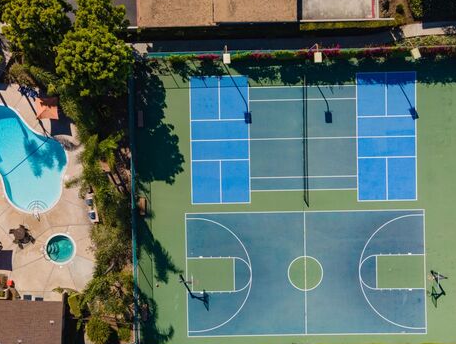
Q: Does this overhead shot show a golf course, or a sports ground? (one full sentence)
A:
What you see here is a sports ground.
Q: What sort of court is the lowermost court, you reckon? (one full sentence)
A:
Looking closely, the lowermost court is a basketball court.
